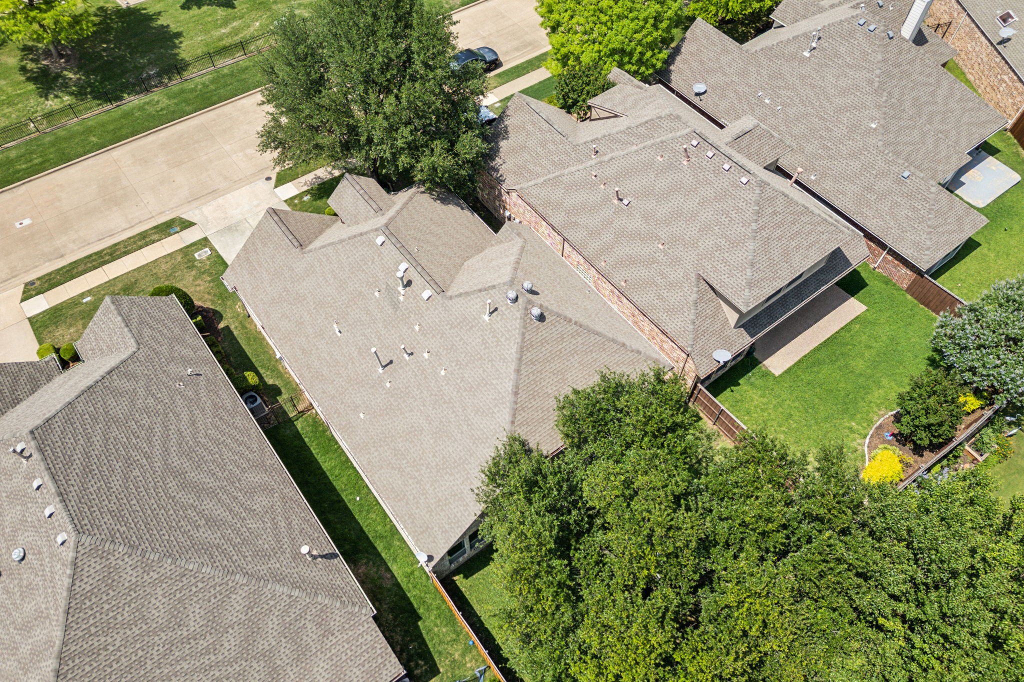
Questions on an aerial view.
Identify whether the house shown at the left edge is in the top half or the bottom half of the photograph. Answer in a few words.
bottom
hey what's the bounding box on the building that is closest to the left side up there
[0,292,407,682]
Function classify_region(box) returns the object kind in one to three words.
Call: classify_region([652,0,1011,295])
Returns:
house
